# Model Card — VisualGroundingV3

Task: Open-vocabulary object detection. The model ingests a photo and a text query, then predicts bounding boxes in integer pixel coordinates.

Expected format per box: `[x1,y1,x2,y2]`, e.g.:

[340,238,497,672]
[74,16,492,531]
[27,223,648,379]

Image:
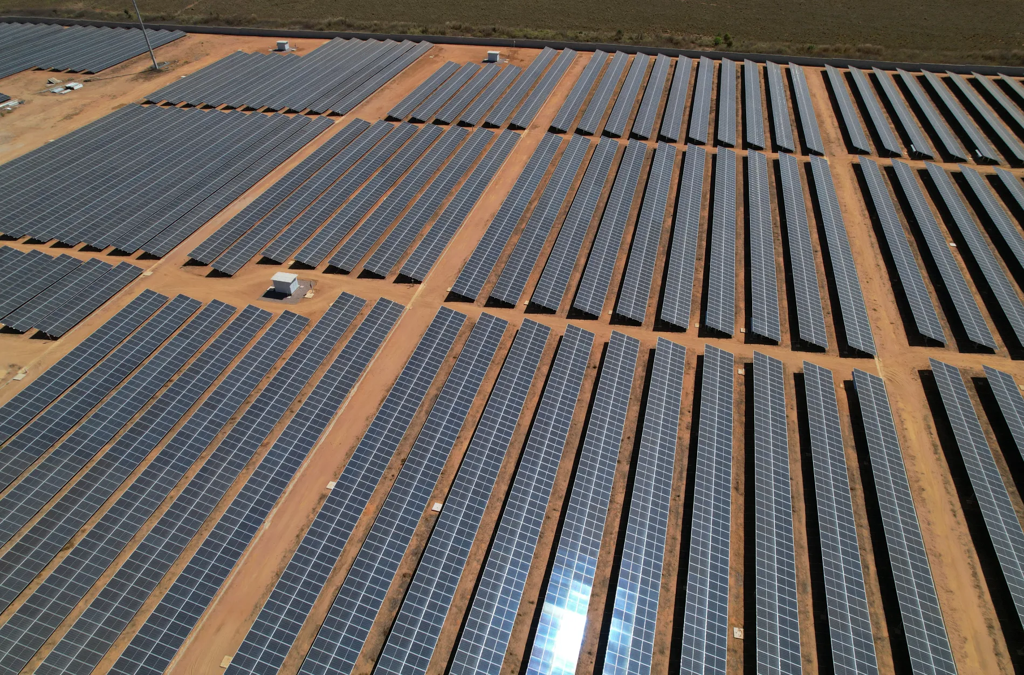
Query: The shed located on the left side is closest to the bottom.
[269,271,300,296]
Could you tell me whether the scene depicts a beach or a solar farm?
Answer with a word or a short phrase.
solar farm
